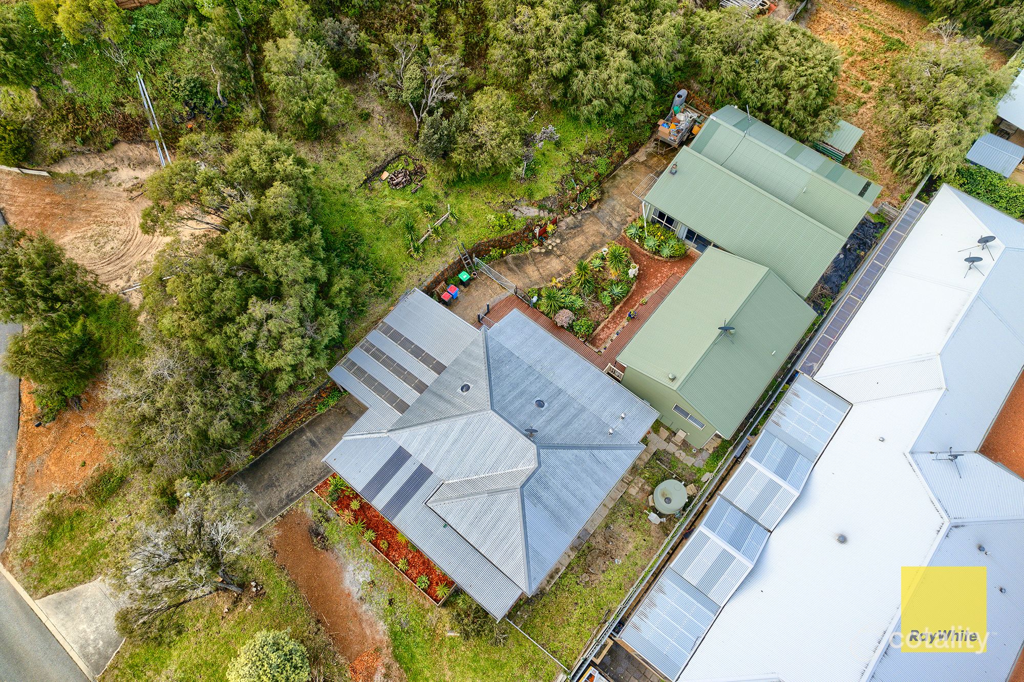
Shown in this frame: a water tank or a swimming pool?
water tank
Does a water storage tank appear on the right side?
Yes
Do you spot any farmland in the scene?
No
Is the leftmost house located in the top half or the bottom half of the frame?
bottom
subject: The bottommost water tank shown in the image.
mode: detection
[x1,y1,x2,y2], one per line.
[649,479,688,518]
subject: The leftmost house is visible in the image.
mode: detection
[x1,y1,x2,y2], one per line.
[322,288,660,622]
